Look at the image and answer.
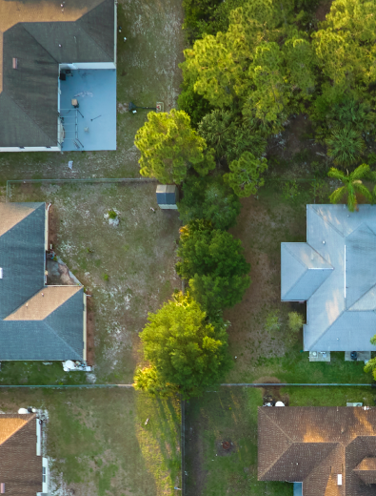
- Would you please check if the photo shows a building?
Yes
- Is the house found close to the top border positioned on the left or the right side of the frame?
left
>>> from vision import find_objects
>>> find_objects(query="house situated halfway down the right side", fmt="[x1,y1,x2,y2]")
[280,203,376,351]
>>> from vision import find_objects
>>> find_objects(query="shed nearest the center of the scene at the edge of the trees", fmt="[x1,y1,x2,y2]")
[151,182,175,205]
